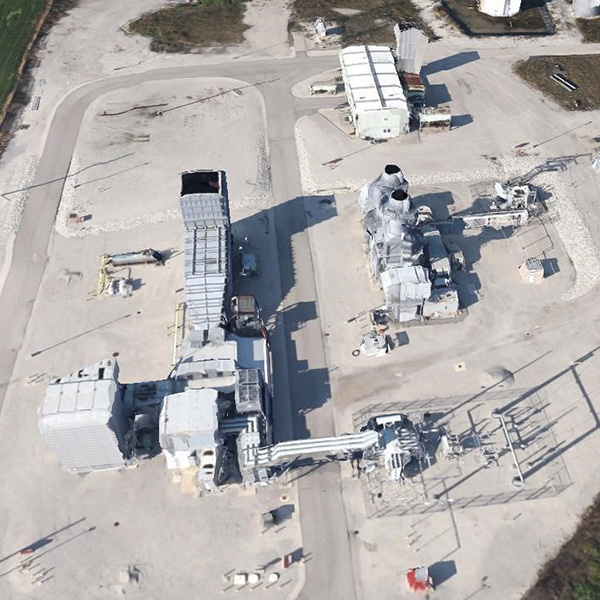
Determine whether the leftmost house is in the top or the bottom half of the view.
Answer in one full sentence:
It is in the bottom half that the leftmost house appears.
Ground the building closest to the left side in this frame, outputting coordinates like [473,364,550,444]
[43,357,139,474]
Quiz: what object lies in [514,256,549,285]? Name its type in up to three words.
shed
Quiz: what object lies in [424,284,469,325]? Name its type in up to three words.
building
